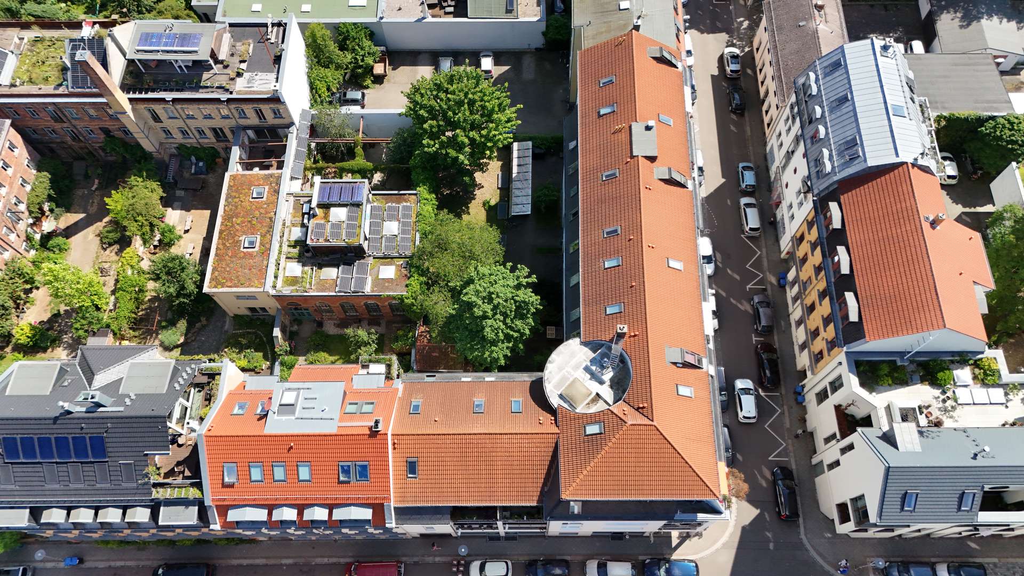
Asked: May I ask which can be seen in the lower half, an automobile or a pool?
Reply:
automobile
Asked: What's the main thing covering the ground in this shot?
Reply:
buildings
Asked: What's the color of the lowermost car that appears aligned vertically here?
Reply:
black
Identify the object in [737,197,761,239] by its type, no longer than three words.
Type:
car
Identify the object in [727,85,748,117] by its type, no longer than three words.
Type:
car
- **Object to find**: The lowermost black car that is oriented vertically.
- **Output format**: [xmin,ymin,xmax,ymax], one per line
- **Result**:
[769,465,800,523]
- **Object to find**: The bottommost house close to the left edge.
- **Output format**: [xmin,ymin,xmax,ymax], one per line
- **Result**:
[0,350,242,538]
